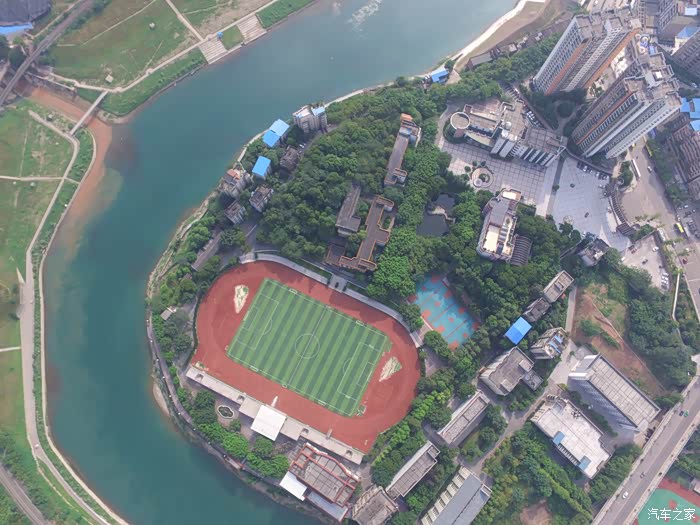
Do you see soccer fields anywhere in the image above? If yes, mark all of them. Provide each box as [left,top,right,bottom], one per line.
[227,278,392,418]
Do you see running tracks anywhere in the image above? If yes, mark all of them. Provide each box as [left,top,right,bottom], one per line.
[192,261,421,454]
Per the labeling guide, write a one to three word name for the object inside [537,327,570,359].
house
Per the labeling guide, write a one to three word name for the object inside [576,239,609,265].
house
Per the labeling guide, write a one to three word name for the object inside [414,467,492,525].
building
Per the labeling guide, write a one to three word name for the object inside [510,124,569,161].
building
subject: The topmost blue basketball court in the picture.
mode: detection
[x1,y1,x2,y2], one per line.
[412,273,483,348]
